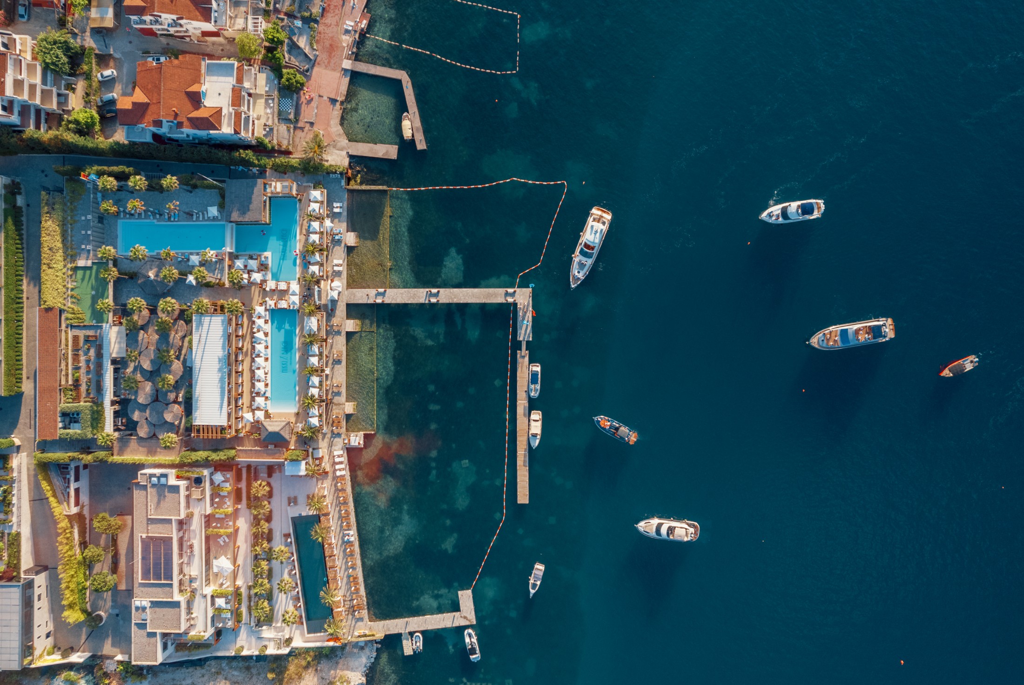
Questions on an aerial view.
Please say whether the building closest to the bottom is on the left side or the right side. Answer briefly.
left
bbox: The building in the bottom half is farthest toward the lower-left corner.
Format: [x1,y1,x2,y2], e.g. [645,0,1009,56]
[0,567,54,670]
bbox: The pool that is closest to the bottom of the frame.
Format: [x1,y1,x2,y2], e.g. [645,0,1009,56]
[289,507,331,637]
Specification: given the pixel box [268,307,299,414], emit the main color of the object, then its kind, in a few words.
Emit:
blue swimming pool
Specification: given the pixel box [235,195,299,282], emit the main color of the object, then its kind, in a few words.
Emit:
blue swimming pool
